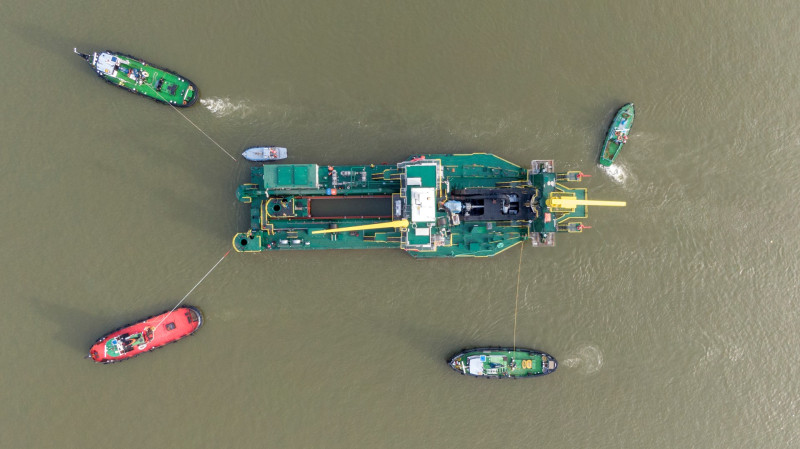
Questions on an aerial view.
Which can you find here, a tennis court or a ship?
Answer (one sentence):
Of the two, only a ship appears.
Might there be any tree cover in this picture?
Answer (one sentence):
No, the scene doesn't show any tree cover.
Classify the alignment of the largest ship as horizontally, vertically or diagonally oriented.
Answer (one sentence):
The largest ship is oriented horizontally.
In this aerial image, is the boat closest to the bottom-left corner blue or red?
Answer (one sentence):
From above, the boat closest to the bottom-left corner appears red.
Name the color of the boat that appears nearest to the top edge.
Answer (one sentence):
From above, the boat that appears nearest to the top edge appears green.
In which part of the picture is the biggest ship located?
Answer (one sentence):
Look in the center portion of the view to spot the biggest ship.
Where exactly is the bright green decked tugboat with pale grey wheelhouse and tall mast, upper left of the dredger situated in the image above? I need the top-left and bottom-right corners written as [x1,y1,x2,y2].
[75,49,200,107]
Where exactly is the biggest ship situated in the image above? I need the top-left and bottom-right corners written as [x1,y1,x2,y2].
[233,152,627,258]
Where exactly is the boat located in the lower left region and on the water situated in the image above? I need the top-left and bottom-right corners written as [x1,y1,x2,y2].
[84,308,205,363]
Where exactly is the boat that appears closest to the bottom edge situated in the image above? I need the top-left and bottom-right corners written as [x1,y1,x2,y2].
[447,346,559,380]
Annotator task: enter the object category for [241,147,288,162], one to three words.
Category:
boat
